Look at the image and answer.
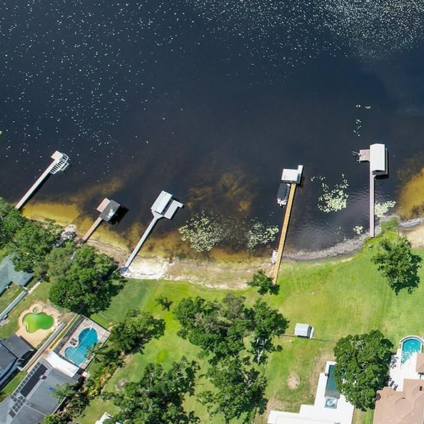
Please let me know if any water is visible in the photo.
Yes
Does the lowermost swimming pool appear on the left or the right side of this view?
right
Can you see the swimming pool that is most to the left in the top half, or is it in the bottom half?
bottom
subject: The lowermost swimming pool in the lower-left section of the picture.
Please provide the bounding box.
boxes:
[62,326,99,365]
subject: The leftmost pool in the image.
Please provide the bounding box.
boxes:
[21,307,55,334]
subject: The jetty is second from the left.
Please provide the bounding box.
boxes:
[80,196,131,243]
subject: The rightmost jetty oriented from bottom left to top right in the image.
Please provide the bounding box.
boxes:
[123,191,185,271]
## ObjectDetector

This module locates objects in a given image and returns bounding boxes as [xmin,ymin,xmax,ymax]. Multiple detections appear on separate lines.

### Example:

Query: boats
[271,251,277,263]
[277,183,290,209]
